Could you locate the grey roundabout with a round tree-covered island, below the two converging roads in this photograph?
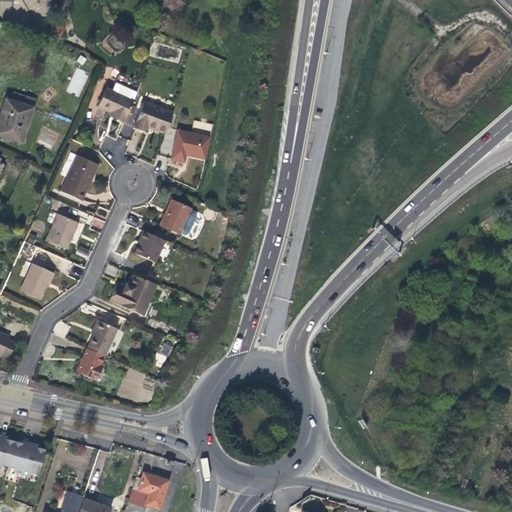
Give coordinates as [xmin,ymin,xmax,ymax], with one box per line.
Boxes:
[180,348,325,505]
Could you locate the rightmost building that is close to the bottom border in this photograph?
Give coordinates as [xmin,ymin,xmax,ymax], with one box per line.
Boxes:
[128,472,170,510]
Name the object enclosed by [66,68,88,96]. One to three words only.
shed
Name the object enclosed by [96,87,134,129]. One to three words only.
house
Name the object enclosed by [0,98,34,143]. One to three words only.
house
